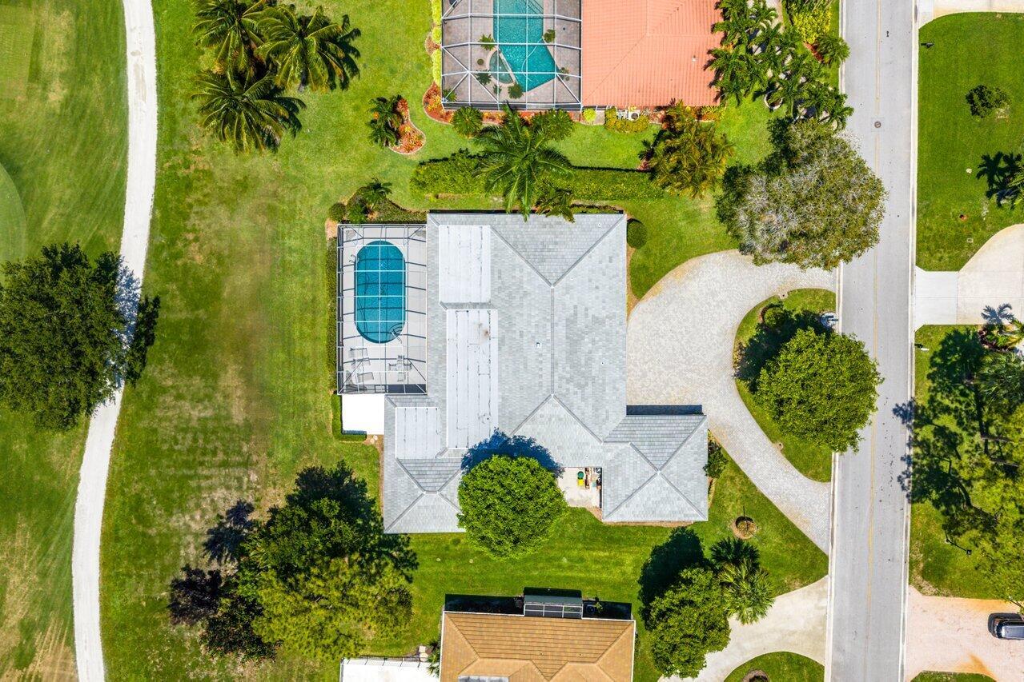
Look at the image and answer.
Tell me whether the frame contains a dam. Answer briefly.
No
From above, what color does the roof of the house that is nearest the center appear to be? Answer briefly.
white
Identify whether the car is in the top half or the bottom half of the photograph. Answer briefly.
bottom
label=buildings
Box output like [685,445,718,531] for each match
[383,211,709,534]
[582,0,728,108]
[438,609,635,682]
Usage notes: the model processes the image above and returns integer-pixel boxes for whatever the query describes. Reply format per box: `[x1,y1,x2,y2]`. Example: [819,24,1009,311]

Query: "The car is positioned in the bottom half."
[993,616,1024,640]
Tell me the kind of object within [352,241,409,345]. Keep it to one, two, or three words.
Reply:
swimming pool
